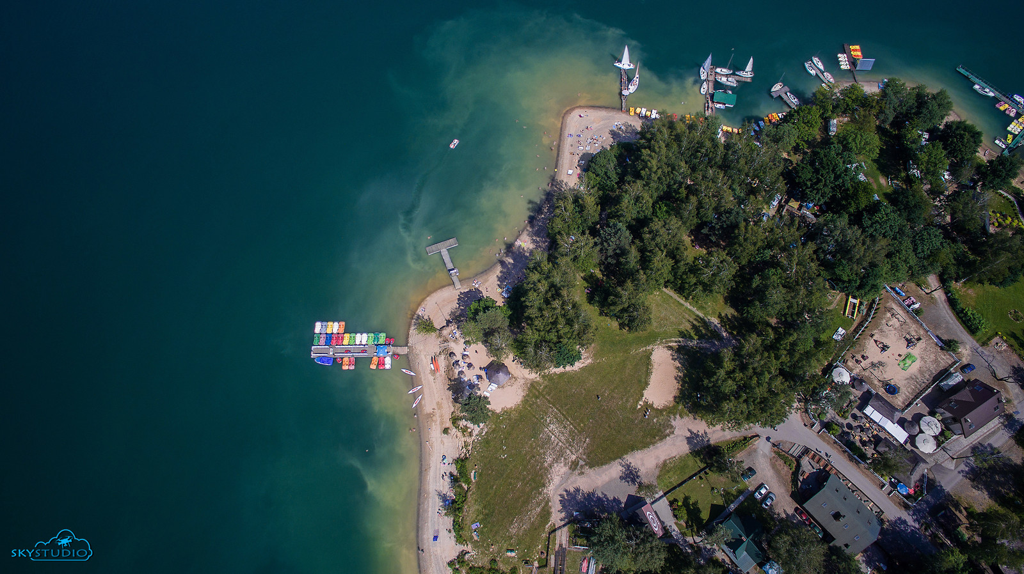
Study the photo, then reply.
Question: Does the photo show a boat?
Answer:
Yes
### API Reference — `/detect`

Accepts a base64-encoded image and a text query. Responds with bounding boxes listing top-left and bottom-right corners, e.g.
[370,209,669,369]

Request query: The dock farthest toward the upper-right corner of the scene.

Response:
[955,64,1024,113]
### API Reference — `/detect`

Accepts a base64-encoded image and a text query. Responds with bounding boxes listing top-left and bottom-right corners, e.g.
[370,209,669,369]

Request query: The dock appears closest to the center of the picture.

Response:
[425,236,462,291]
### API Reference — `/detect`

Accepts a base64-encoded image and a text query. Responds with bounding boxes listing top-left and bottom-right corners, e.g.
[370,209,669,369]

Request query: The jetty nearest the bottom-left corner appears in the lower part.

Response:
[311,345,409,358]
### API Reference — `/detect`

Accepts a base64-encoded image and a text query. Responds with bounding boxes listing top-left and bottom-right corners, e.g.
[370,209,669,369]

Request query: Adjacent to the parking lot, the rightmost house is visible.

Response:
[797,472,880,556]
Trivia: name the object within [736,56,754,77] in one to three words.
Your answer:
boat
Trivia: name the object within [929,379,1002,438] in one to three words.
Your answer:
house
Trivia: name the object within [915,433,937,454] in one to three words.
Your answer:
umbrella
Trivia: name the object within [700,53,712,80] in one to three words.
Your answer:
boat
